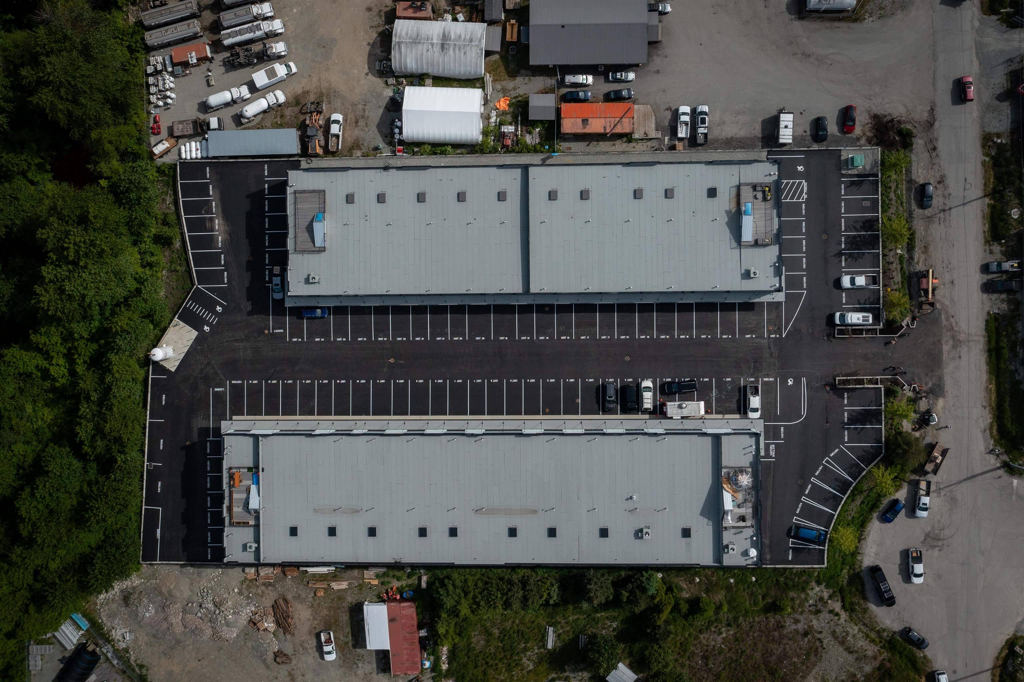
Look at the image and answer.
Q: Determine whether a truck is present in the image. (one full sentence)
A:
Yes, the frame does contain a truck.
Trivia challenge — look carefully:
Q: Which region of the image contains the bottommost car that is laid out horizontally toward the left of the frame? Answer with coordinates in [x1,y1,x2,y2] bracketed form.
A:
[302,306,330,320]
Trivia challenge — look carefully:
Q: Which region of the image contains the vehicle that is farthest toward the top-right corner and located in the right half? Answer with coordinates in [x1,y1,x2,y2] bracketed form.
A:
[957,75,976,103]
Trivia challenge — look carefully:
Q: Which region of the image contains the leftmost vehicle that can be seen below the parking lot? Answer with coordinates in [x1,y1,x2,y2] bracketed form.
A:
[320,628,337,661]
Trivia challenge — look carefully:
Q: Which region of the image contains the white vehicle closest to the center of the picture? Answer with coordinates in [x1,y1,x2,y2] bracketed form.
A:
[640,380,654,411]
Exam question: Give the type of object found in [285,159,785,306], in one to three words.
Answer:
building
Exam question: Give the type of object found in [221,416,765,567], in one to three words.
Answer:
building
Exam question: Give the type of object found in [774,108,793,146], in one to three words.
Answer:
trailer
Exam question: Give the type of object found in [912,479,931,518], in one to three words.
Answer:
vehicle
